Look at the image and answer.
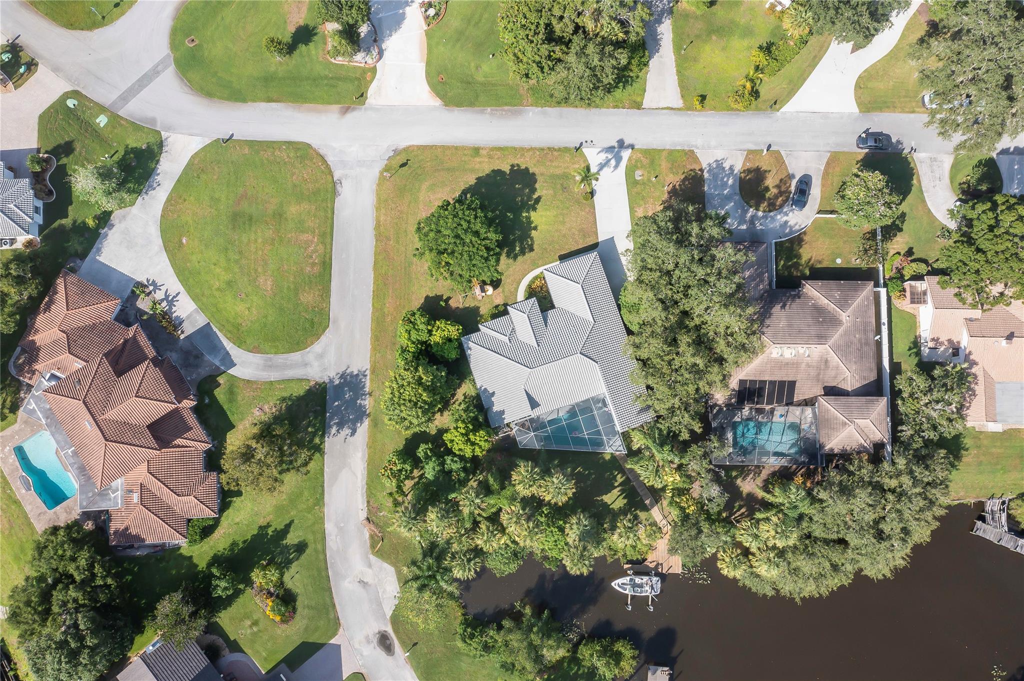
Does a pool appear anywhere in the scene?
Yes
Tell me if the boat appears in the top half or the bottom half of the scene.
bottom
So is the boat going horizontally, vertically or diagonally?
horizontally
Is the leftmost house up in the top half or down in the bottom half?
top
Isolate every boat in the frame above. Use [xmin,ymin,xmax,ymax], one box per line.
[611,576,661,598]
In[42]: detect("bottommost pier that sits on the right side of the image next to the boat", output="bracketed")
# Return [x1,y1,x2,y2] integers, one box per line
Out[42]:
[623,526,682,575]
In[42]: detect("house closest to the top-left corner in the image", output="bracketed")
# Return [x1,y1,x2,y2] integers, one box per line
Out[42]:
[0,160,45,236]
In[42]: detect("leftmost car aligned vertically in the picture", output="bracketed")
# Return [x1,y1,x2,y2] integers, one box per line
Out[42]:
[791,174,811,211]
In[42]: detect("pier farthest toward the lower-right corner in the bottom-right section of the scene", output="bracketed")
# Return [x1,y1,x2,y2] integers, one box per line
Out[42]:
[967,498,1024,555]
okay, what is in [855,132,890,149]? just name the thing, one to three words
car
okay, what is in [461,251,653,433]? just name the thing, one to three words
house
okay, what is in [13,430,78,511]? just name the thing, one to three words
swimming pool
